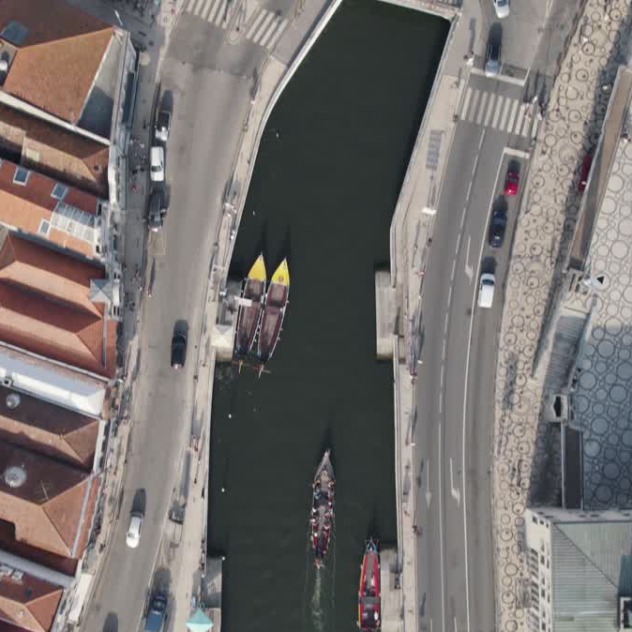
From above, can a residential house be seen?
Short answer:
Yes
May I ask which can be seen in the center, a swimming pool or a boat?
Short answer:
boat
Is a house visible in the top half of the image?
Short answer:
Yes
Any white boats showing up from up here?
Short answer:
No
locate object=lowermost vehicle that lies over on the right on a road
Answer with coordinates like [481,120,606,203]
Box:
[477,272,496,308]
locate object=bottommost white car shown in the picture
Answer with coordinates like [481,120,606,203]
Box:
[127,511,143,543]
